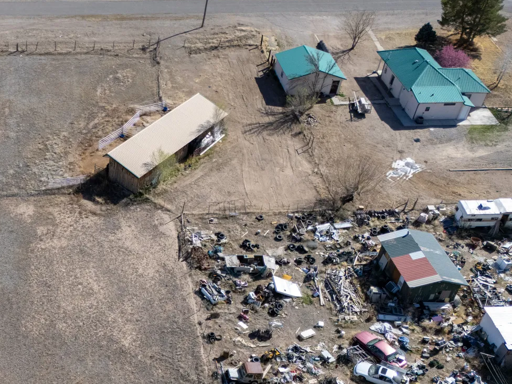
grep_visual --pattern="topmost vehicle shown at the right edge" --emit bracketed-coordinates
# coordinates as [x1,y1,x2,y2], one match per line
[449,198,512,235]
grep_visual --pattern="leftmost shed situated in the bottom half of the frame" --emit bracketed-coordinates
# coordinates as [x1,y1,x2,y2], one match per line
[375,229,468,305]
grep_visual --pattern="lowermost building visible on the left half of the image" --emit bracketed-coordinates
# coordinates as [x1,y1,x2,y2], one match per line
[105,98,230,193]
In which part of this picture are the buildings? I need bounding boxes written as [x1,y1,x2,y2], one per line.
[479,304,512,357]
[105,98,230,193]
[270,41,346,97]
[378,47,491,121]
[375,229,468,305]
